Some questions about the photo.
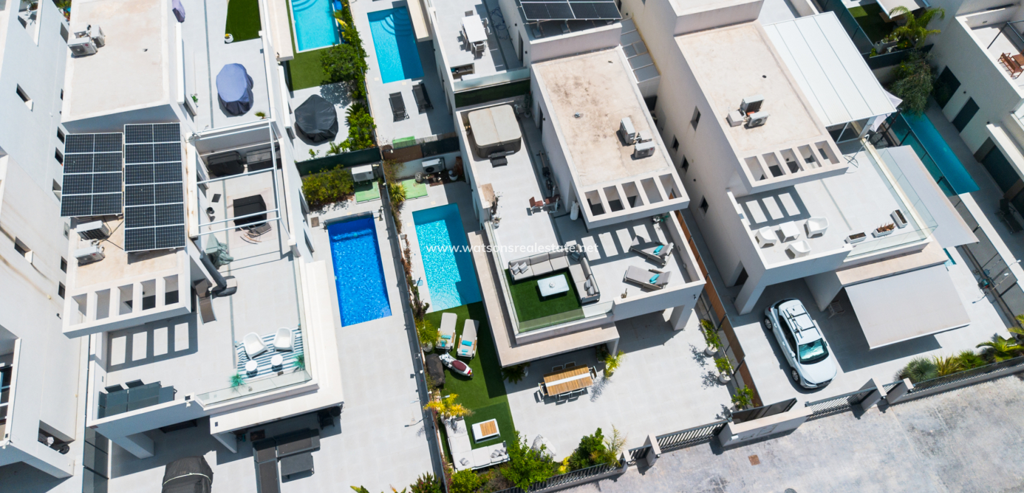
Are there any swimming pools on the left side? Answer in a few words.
Yes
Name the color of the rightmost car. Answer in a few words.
white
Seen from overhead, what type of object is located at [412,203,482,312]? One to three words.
swimming pool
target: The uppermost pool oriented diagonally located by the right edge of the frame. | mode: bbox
[883,90,979,196]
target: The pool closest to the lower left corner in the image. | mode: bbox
[326,214,392,327]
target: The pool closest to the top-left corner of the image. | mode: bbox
[288,0,342,53]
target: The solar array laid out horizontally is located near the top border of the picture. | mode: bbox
[523,0,619,33]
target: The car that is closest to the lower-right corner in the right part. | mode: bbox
[768,297,835,388]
